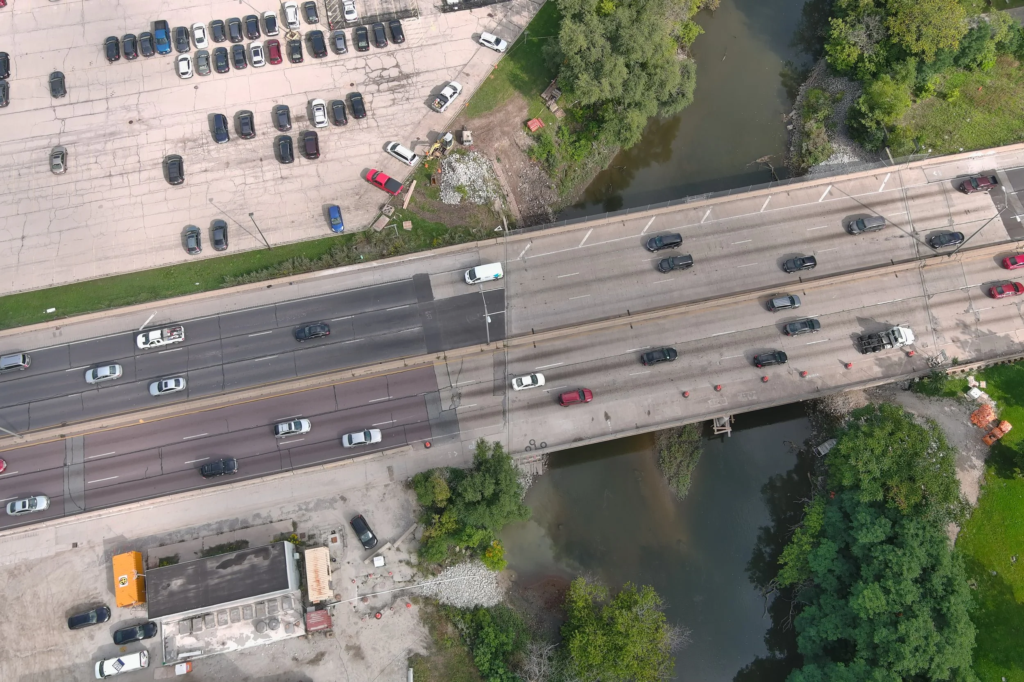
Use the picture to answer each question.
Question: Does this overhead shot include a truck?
Yes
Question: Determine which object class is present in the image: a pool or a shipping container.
shipping container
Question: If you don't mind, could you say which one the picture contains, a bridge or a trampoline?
bridge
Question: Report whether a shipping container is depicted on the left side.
Yes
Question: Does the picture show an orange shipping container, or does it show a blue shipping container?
orange shipping container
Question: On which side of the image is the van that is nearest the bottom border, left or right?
left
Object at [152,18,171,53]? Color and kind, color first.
blue vehicle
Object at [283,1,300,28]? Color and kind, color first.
white car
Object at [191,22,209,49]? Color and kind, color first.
white car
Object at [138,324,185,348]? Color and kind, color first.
white truck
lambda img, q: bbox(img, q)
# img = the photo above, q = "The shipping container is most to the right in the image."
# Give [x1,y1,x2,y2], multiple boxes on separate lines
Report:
[305,547,334,603]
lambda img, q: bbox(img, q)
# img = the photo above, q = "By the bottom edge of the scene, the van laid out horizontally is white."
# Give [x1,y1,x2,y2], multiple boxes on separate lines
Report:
[95,649,154,682]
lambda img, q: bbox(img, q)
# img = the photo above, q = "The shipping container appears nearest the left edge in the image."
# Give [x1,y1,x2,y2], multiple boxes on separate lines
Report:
[113,551,147,609]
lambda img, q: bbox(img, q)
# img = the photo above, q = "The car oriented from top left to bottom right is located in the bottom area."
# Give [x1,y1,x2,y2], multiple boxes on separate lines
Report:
[347,512,379,551]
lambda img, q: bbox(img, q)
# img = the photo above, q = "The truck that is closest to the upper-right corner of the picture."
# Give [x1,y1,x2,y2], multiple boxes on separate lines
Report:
[957,174,1002,195]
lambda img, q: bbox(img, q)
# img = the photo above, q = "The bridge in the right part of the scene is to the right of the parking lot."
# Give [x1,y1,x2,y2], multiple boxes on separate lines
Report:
[501,165,946,463]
